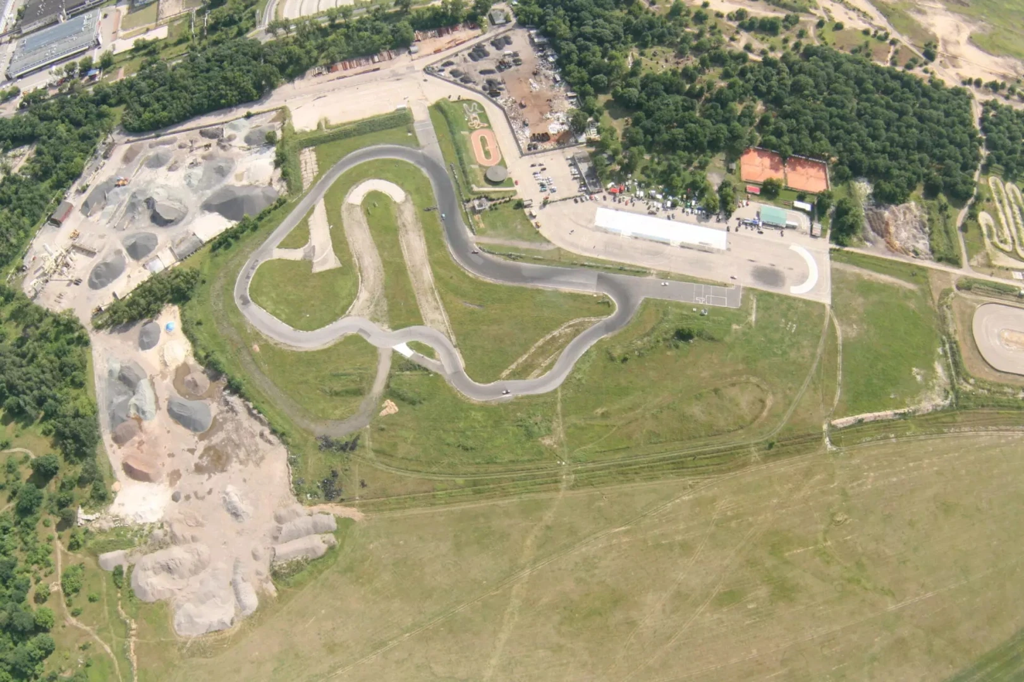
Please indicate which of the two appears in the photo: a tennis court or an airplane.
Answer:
tennis court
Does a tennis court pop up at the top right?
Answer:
Yes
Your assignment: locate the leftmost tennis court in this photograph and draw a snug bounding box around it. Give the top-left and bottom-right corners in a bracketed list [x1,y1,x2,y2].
[742,150,783,180]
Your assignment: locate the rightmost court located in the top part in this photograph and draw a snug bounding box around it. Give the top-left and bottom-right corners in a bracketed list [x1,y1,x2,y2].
[786,158,828,190]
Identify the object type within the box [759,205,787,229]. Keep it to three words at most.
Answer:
building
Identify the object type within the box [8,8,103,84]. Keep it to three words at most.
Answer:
building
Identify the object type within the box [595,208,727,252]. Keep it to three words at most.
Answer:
tent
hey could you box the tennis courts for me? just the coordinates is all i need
[786,158,828,190]
[742,150,783,180]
